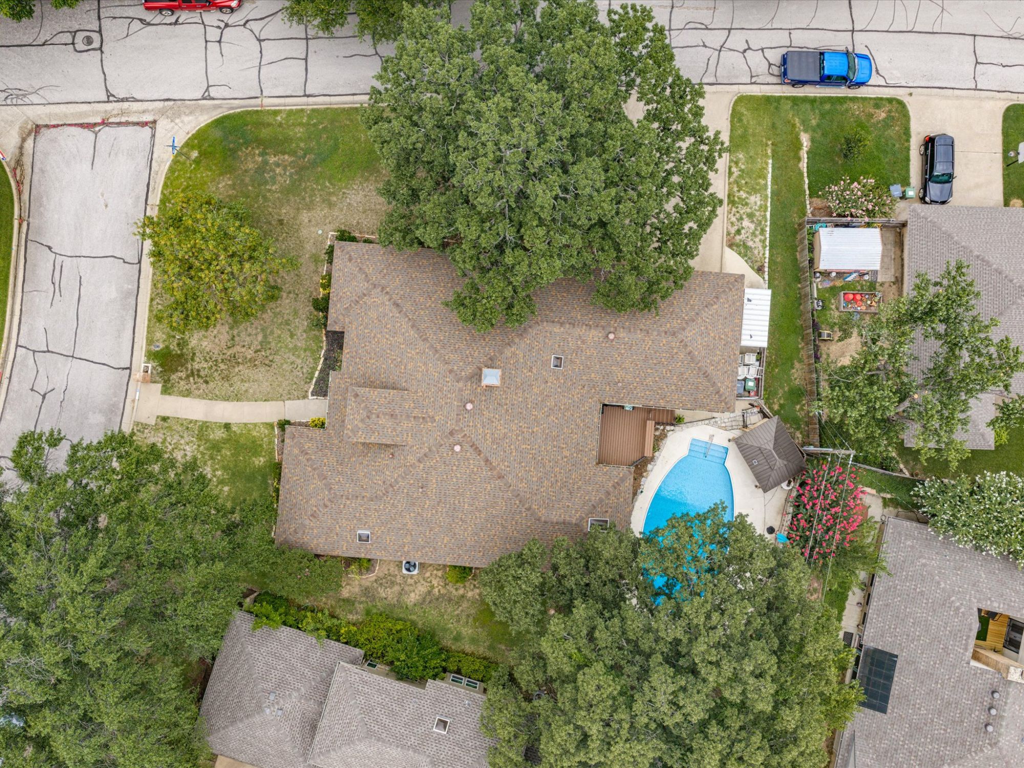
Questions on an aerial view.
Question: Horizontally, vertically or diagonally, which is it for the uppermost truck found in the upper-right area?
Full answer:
The uppermost truck found in the upper-right area is laid out horizontally.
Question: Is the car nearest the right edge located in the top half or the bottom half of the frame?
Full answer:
It is in the top half that the car nearest the right edge appears.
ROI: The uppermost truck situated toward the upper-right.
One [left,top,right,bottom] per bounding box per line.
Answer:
[776,48,871,92]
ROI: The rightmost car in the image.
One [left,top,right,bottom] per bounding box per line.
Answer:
[915,134,958,206]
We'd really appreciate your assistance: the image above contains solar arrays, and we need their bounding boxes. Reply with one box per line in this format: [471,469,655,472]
[860,645,900,716]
